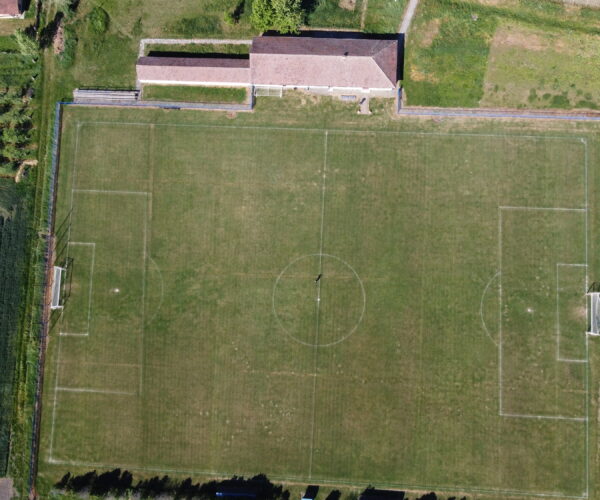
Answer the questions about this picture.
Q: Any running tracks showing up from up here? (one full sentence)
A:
No, the frame has no running track in it.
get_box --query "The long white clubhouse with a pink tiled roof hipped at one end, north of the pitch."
[248,36,397,98]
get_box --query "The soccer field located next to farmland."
[39,113,599,500]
